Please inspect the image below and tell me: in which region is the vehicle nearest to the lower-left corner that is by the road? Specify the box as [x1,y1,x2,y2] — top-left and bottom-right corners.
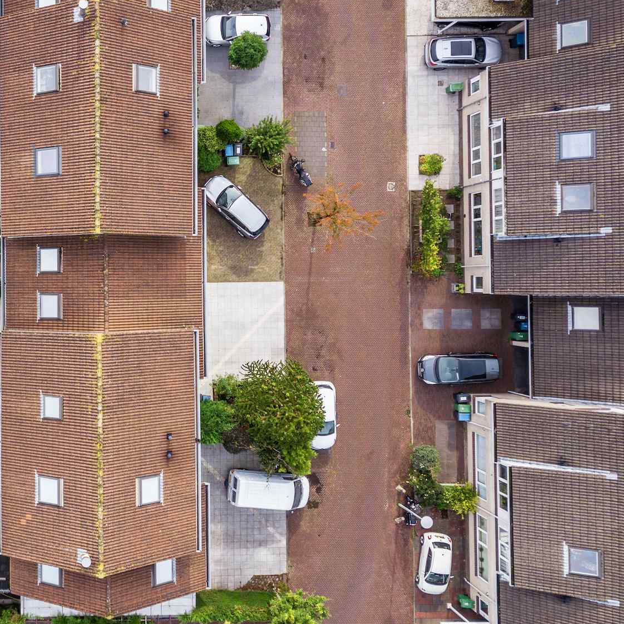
[225,467,305,511]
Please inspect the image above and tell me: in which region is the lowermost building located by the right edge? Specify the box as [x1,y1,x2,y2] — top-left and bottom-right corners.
[468,394,624,624]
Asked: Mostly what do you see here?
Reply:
buildings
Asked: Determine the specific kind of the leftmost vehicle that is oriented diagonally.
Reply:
car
